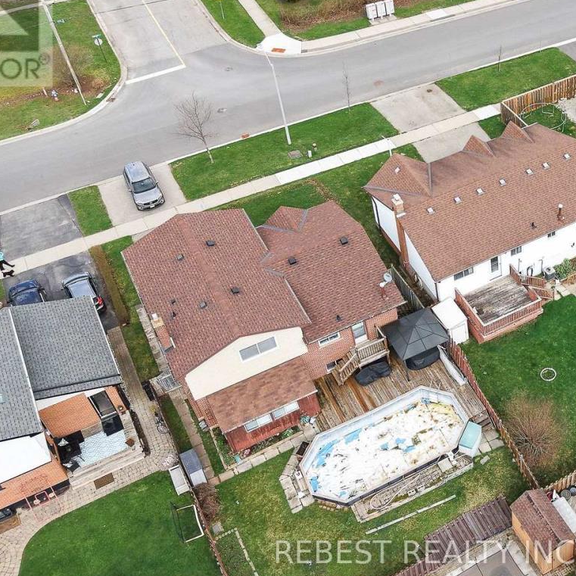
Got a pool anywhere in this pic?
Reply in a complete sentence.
Yes, you can see a pool in this photo.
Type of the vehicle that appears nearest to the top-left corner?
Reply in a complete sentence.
It turns out the vehicle that appears nearest to the top-left corner is a car.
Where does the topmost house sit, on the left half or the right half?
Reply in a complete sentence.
The topmost house is on the right side of the image.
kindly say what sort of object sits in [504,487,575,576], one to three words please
shed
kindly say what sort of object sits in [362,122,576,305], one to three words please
house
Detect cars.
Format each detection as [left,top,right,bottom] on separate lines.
[116,158,164,213]
[0,266,52,308]
[57,261,108,306]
